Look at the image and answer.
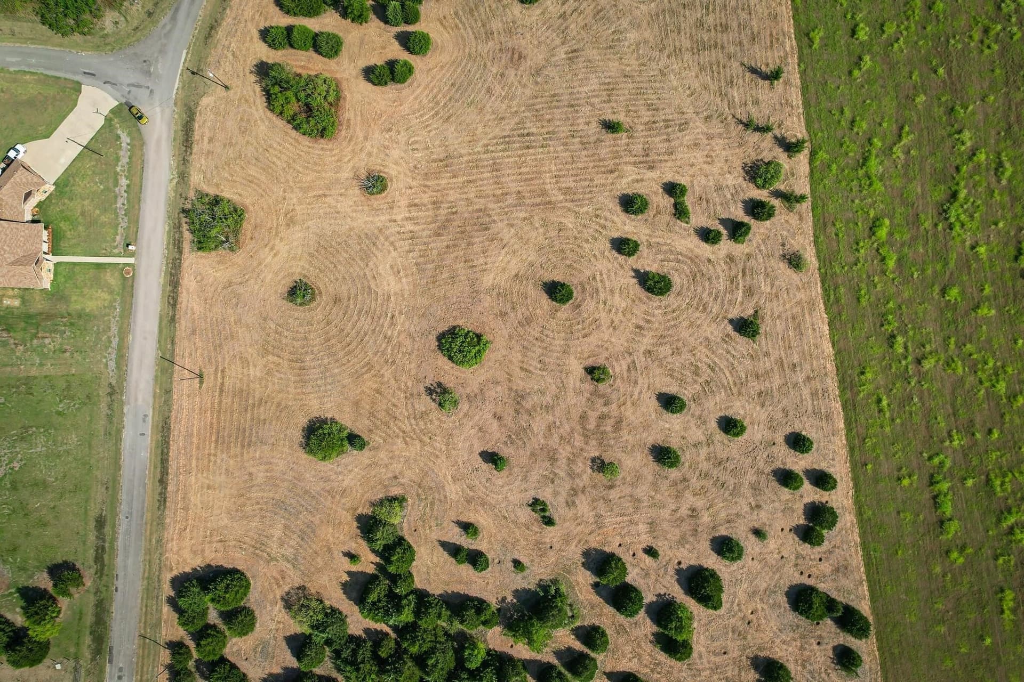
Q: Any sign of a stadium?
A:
No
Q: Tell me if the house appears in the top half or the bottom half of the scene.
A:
top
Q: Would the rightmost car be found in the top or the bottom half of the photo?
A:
top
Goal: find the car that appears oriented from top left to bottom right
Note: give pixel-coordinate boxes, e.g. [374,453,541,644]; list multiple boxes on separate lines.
[127,102,150,126]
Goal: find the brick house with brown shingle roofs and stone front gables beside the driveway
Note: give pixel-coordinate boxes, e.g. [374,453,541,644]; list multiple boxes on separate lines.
[0,157,57,289]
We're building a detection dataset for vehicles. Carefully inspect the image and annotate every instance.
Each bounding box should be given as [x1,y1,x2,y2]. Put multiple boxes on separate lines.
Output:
[127,102,150,126]
[0,144,30,174]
